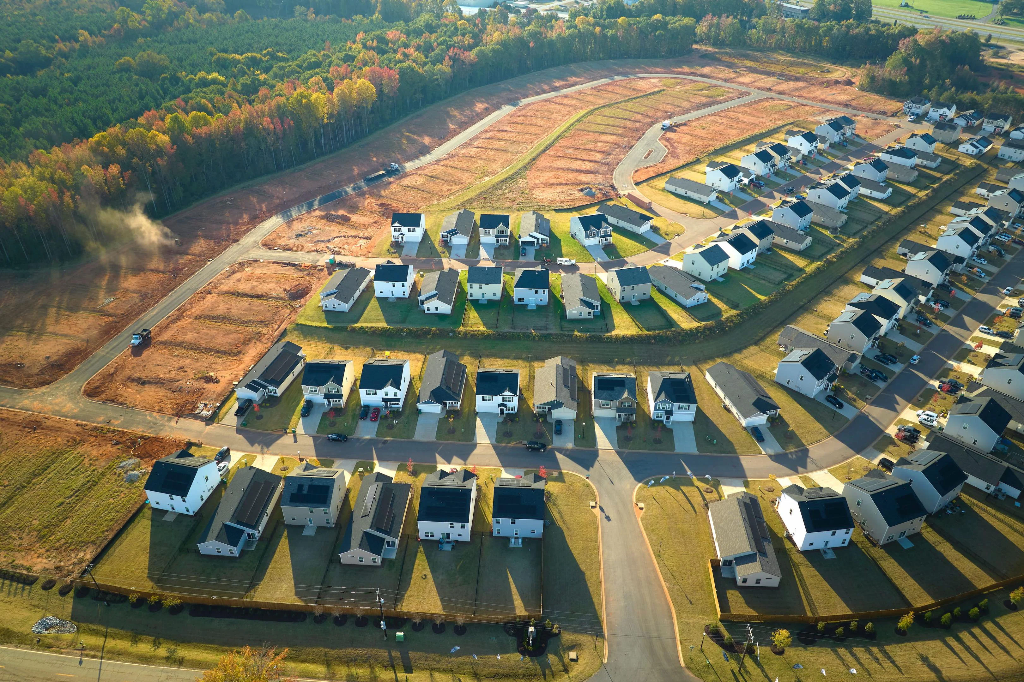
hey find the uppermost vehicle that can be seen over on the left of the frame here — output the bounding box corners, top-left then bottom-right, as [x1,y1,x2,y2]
[367,160,401,178]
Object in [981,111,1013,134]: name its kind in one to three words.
house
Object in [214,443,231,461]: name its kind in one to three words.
car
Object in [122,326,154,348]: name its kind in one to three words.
truck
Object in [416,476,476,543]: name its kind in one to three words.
house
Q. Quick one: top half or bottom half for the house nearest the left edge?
bottom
